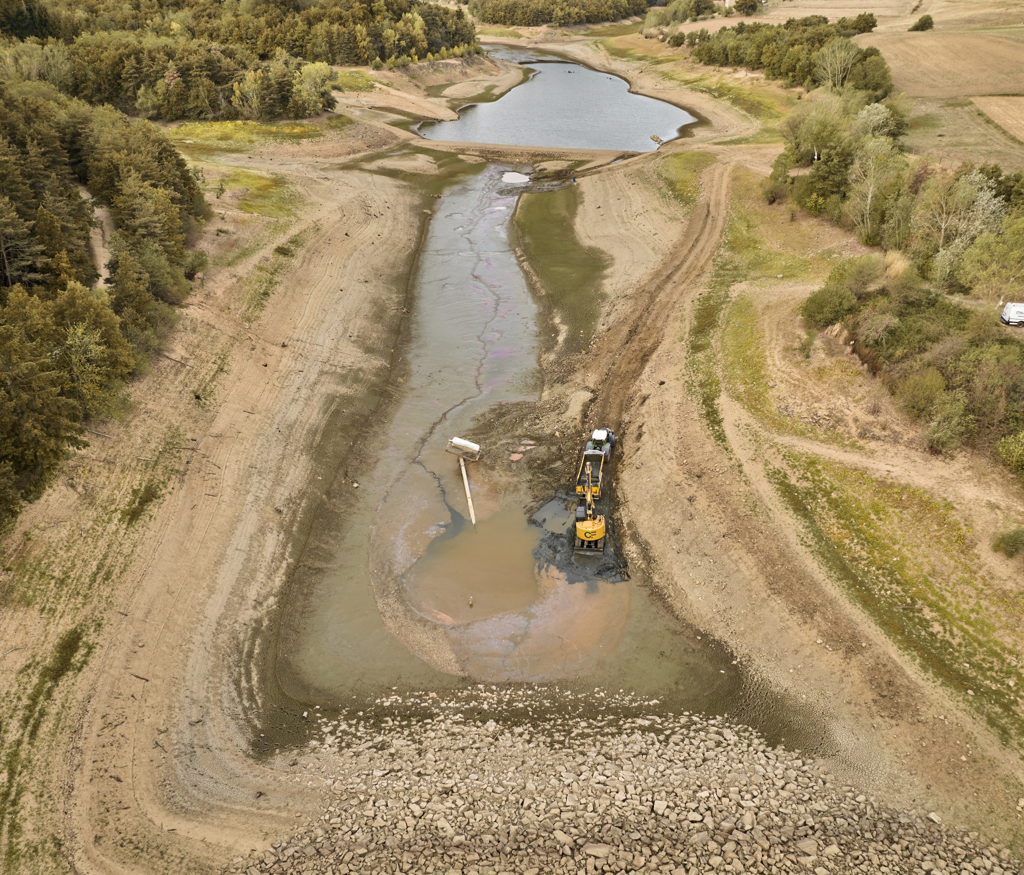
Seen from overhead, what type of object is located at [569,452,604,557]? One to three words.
work vehicle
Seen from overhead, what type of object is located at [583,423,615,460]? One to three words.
work vehicle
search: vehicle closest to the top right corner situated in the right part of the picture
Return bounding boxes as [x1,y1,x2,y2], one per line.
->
[999,298,1024,323]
